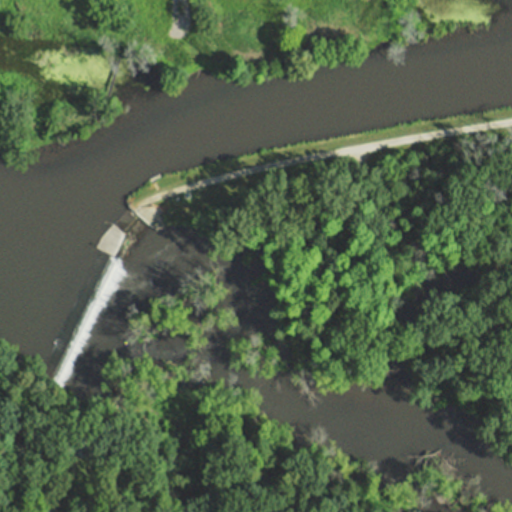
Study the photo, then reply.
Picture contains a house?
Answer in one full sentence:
No, there isn't any house down there.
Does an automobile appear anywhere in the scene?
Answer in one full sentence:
No, no automobile is visible in the scene.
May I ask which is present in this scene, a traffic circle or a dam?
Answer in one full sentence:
Of the two, only a dam appears.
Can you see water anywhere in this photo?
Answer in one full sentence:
Yes, there's water in this view.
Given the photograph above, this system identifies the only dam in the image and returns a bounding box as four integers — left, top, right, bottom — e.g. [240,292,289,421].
[56,256,125,386]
